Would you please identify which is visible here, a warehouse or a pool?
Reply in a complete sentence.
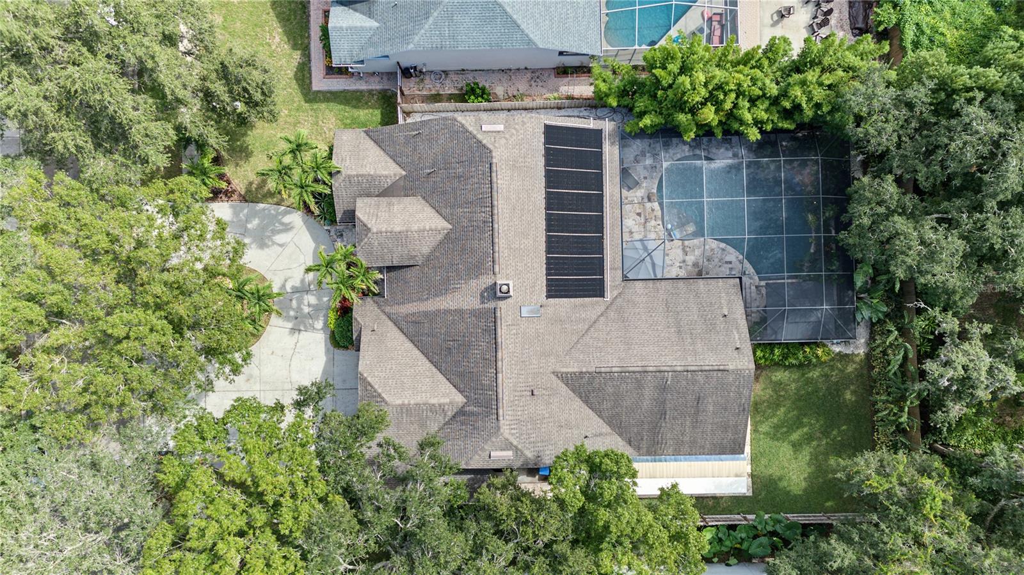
It is a pool that can be seen here.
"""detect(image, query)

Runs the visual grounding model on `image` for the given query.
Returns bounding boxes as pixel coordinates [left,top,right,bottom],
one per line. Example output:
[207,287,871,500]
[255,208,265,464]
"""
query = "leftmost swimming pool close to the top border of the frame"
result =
[603,0,703,56]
